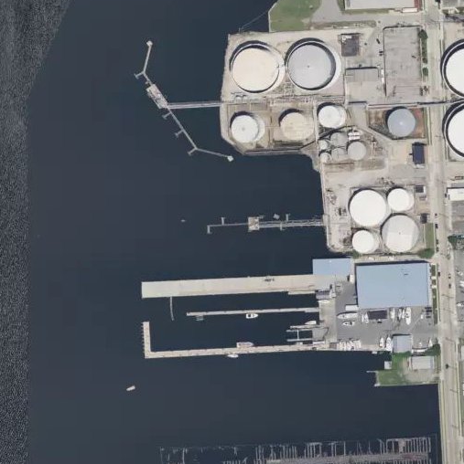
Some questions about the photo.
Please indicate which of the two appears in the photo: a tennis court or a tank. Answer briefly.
tank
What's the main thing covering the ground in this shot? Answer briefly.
water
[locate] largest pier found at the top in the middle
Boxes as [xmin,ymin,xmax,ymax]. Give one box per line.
[135,39,236,162]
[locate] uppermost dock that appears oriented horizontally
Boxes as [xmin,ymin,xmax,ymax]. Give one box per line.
[207,213,325,234]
